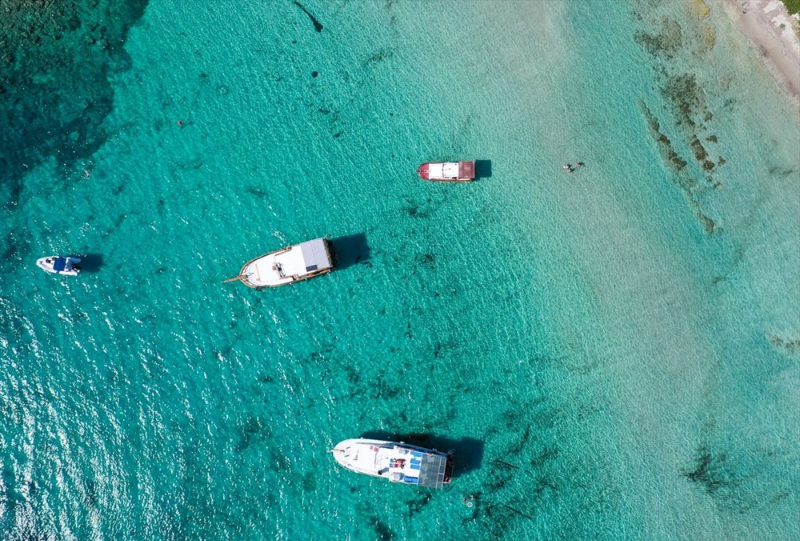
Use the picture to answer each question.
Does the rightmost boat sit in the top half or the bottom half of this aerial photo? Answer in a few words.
top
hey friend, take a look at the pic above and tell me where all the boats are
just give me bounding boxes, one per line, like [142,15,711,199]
[36,256,81,277]
[417,161,477,182]
[328,439,455,490]
[224,235,340,286]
